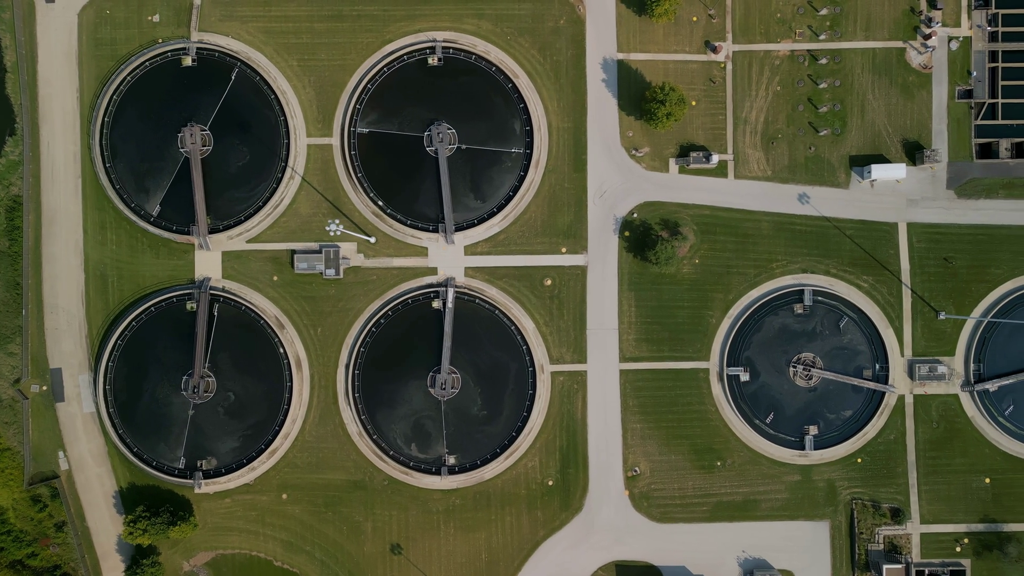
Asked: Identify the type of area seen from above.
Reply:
industrial area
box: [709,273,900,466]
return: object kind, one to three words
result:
storage tank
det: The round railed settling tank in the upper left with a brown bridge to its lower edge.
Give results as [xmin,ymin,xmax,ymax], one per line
[93,35,304,248]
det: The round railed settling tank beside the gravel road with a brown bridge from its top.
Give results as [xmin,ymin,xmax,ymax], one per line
[96,279,308,491]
